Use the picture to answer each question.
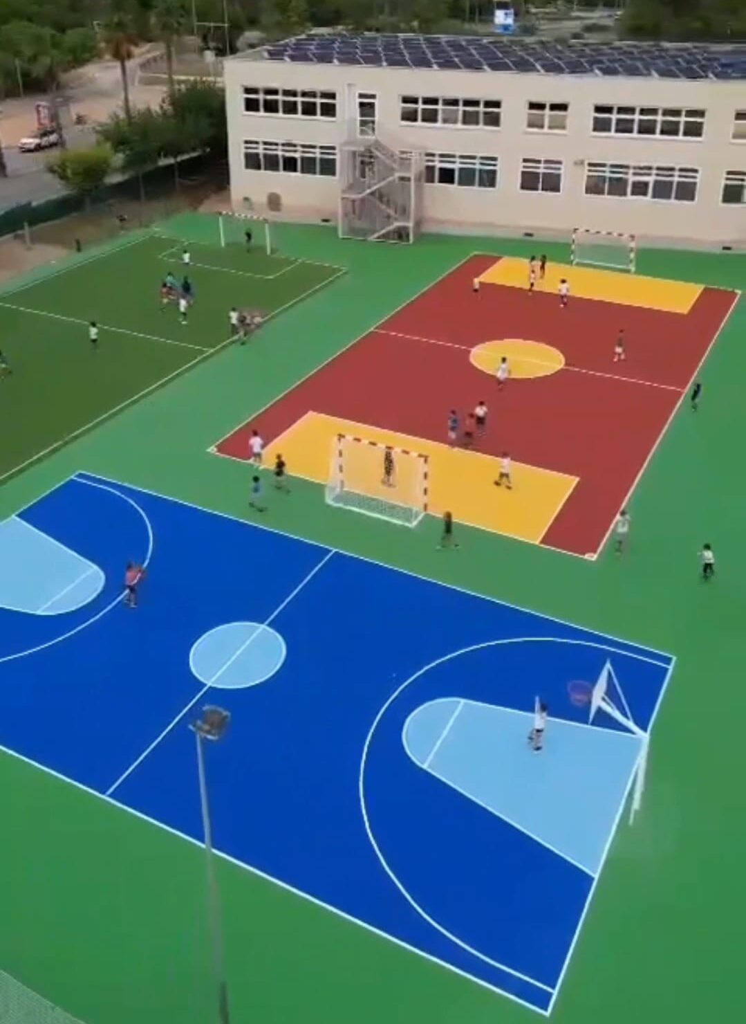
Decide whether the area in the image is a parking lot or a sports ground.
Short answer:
sports ground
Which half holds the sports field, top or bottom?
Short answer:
top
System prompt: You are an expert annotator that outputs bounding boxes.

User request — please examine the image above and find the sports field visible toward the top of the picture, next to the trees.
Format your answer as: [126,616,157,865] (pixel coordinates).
[0,233,351,483]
